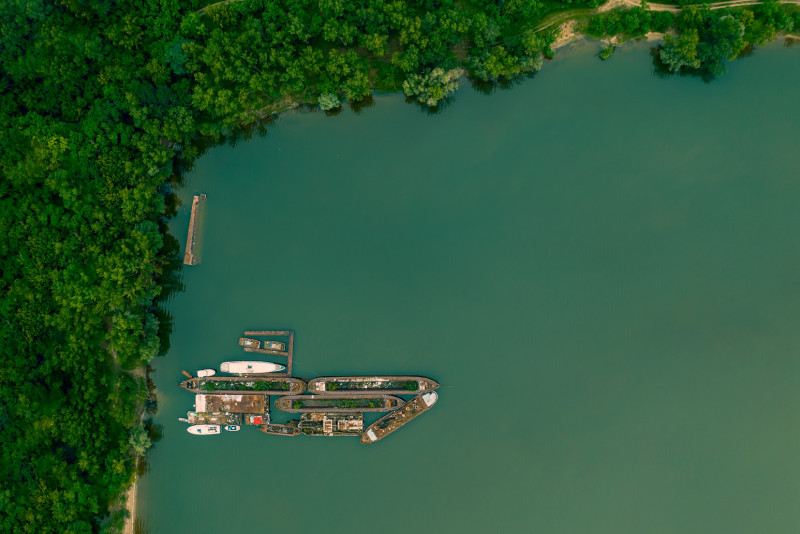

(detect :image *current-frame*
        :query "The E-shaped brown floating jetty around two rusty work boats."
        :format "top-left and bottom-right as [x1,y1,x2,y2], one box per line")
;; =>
[236,331,295,377]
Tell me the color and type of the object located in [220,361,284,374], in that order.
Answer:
white boat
